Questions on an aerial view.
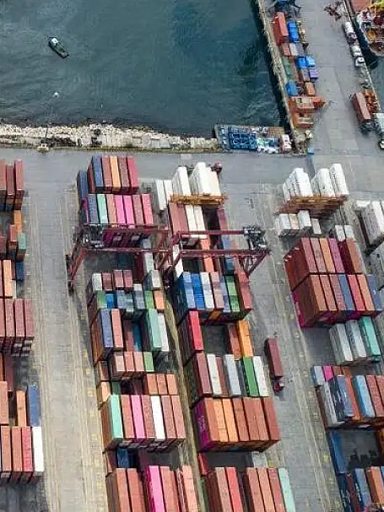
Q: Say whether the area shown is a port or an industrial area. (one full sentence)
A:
The picture captures a port.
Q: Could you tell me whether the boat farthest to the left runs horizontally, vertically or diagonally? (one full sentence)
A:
In this picture, the boat farthest to the left is oriented diagonally.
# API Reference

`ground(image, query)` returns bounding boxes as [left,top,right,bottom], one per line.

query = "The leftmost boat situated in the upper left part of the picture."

[49,39,71,60]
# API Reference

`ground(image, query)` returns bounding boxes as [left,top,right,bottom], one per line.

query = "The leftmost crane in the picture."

[66,224,181,297]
